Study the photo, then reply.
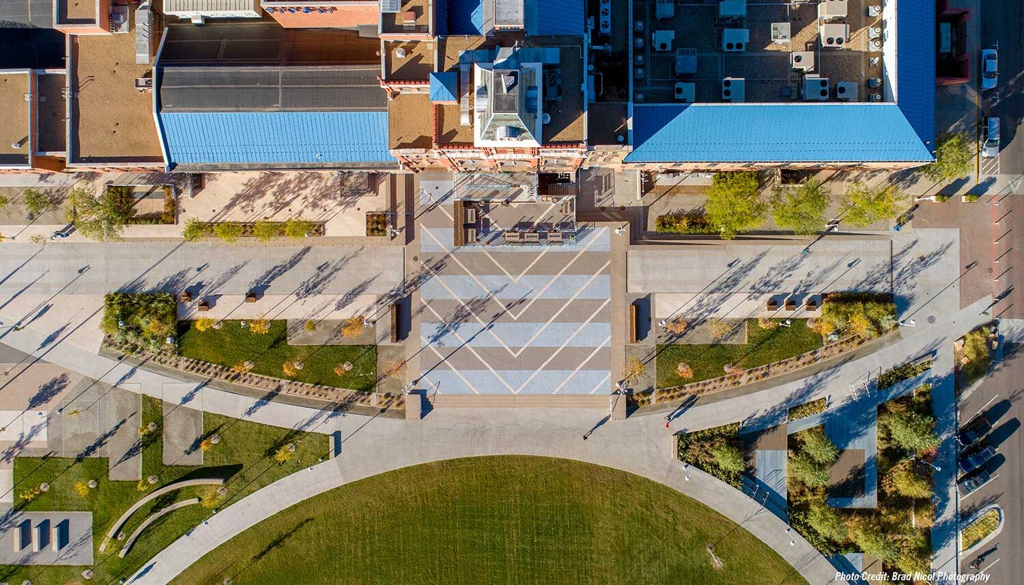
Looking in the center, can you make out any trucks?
No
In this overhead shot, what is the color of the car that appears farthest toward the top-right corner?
blue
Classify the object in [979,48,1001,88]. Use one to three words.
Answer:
car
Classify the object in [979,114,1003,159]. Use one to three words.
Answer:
truck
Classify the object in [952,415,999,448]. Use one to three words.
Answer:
truck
